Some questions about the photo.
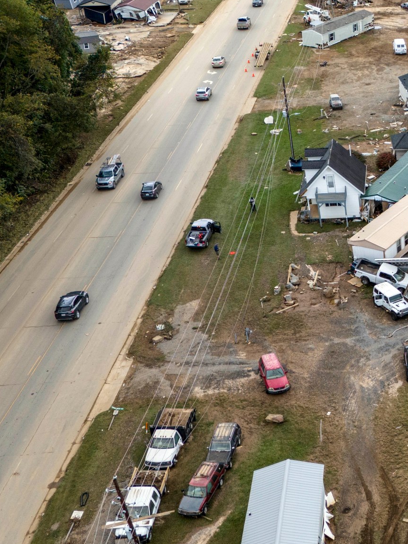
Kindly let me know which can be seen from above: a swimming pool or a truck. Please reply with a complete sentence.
Visible in the photo is a truck.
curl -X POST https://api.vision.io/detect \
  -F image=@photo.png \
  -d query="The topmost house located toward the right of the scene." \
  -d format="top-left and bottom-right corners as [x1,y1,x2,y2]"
[300,9,376,51]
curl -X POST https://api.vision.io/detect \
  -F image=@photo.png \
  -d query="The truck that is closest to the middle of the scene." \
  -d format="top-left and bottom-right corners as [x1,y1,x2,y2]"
[190,220,223,249]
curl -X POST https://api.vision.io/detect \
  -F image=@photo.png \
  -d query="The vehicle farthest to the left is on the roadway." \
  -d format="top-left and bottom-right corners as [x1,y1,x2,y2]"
[53,292,89,321]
